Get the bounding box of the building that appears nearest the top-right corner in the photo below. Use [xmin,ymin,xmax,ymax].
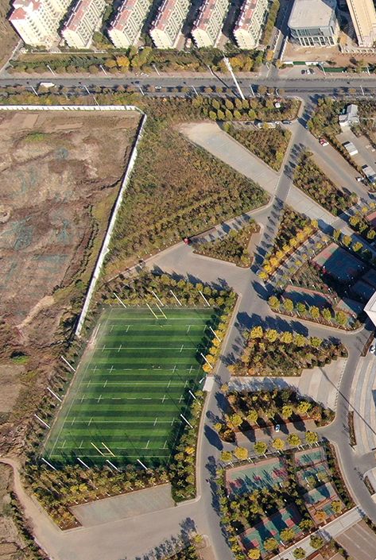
[347,0,376,47]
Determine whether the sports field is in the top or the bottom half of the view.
bottom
